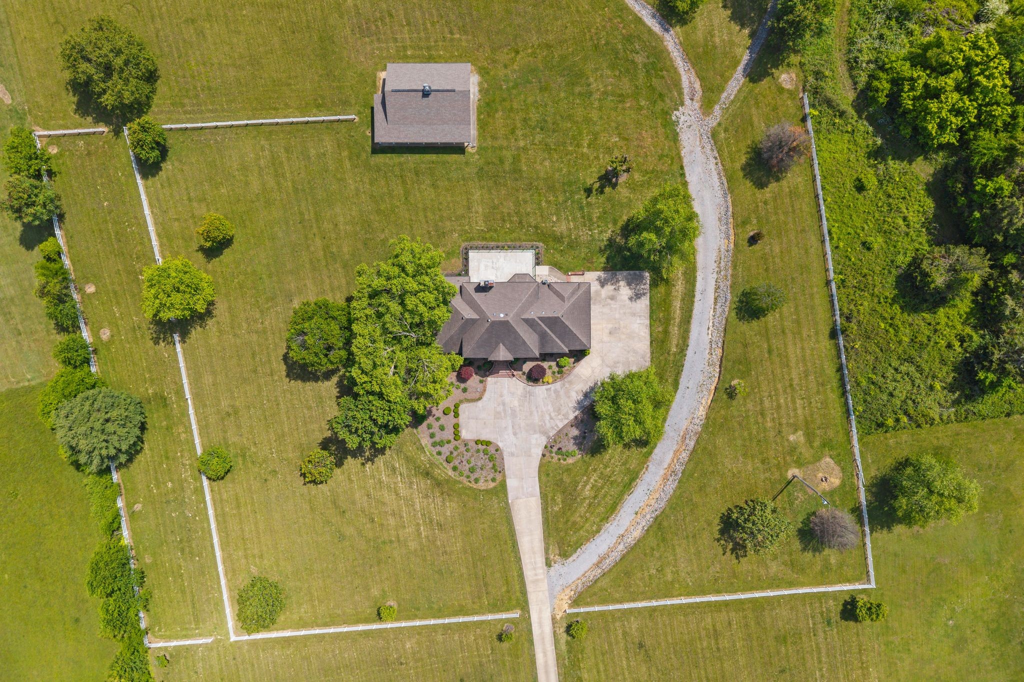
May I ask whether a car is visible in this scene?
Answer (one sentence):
No, the photo shows no car.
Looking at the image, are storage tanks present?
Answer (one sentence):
No, the frame has no storage tank in it.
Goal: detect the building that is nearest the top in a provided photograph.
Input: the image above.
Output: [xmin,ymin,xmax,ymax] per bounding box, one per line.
[374,62,474,152]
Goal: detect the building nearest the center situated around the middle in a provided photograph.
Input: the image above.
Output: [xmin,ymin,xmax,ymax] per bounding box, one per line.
[427,274,591,377]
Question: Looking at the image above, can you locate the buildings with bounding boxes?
[427,274,591,377]
[374,62,474,152]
